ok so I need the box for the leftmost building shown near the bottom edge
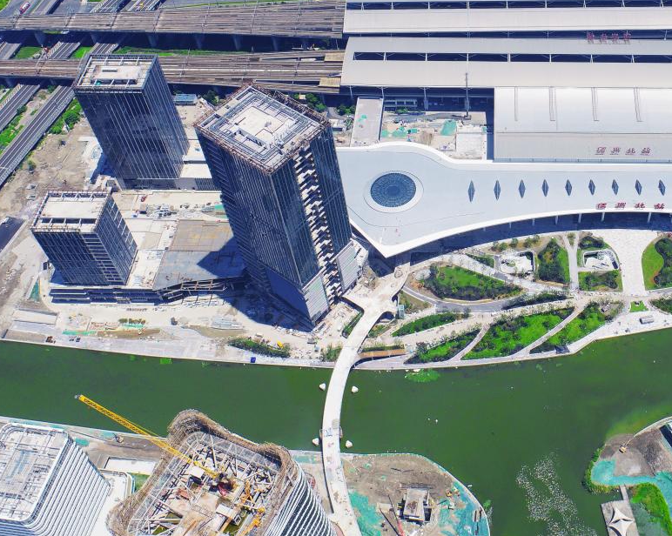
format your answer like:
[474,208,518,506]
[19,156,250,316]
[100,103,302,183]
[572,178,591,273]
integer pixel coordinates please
[0,422,103,536]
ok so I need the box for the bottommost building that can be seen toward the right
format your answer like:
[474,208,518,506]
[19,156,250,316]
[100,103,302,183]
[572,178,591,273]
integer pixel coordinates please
[399,491,435,526]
